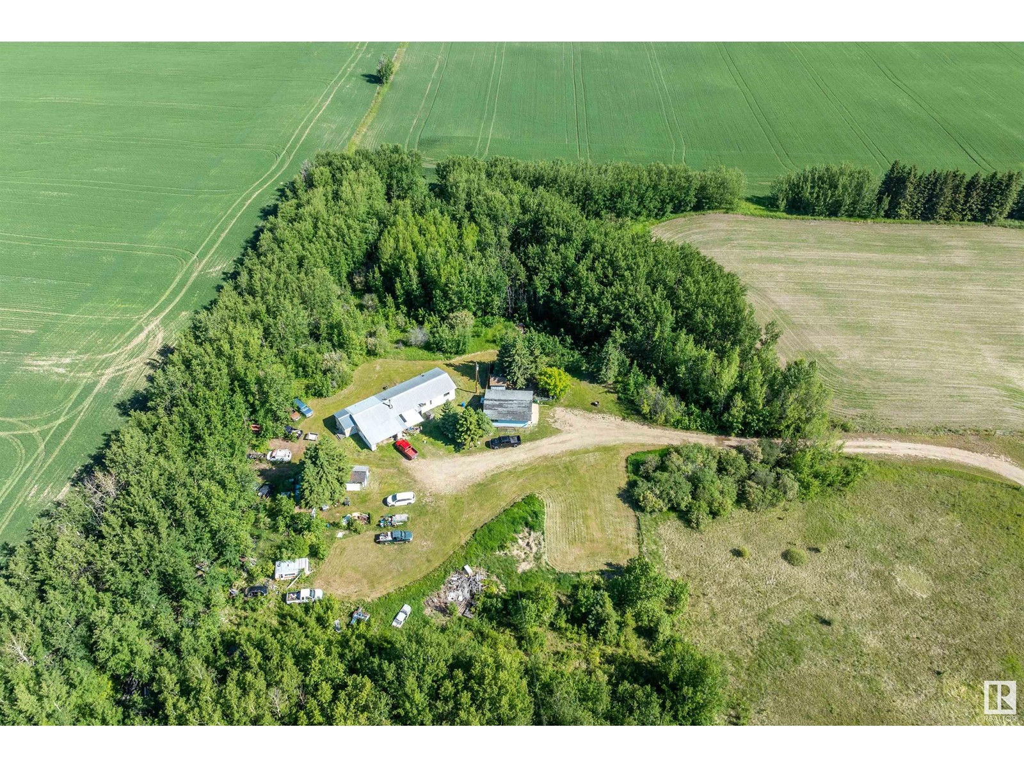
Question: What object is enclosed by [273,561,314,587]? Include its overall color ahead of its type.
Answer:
white camper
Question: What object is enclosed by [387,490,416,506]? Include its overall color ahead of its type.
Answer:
white car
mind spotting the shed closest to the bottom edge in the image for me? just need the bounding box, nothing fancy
[345,467,366,494]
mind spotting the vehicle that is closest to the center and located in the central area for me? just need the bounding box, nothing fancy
[490,432,523,448]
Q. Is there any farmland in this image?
Yes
